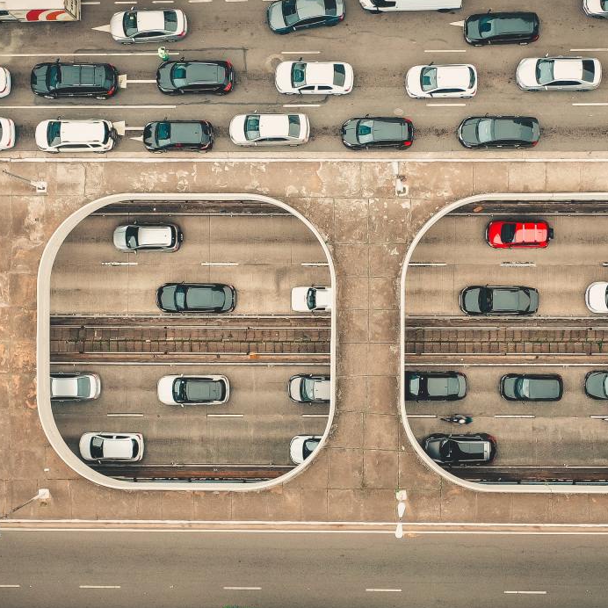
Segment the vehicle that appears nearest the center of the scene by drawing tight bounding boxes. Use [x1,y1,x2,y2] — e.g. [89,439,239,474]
[292,281,332,316]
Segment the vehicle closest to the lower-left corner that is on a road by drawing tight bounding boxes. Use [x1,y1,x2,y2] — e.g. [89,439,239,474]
[78,430,144,466]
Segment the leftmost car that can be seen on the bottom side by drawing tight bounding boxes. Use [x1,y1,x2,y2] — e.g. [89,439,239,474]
[50,372,101,402]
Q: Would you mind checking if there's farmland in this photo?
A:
No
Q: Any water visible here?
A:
No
